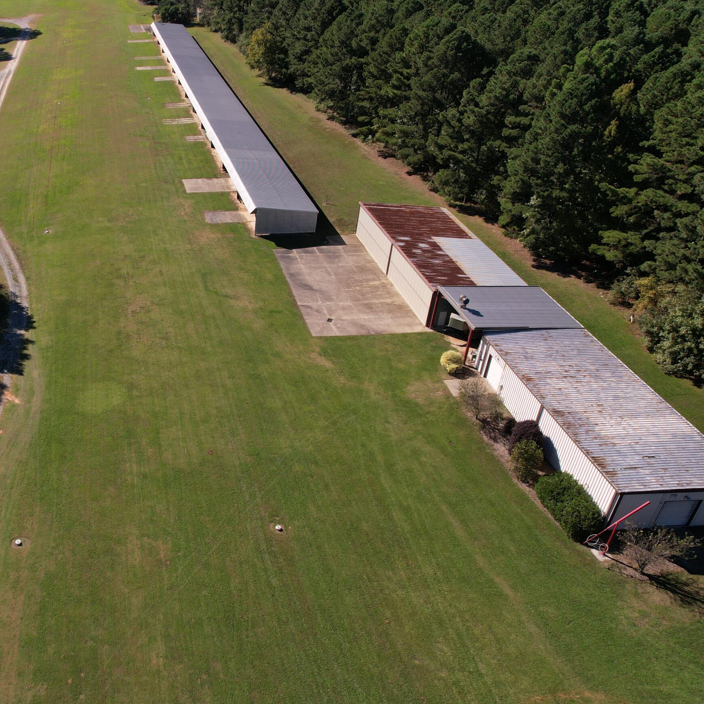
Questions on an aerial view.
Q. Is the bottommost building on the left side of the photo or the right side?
right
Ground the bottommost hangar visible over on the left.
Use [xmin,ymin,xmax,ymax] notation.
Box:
[151,21,318,234]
